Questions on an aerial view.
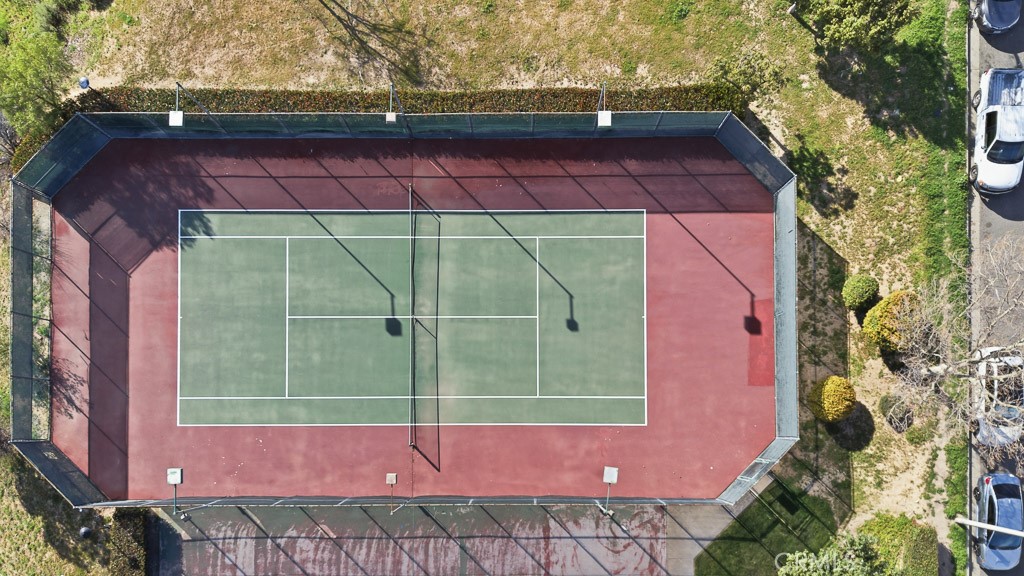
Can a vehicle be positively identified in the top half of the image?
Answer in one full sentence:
Yes, I can see a vehicle in the top half of the image.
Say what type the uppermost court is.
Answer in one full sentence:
It turns out the uppermost court is a tennis court.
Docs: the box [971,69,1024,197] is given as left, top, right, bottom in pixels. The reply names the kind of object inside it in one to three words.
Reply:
truck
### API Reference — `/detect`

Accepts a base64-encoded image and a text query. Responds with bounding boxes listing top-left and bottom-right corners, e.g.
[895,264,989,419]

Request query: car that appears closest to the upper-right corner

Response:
[975,0,1022,37]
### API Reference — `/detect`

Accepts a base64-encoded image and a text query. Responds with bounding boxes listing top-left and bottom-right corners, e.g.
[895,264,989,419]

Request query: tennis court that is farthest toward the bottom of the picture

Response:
[158,506,667,576]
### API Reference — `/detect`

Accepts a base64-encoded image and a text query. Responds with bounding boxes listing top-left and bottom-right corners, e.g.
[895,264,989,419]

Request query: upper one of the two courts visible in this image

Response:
[52,137,775,499]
